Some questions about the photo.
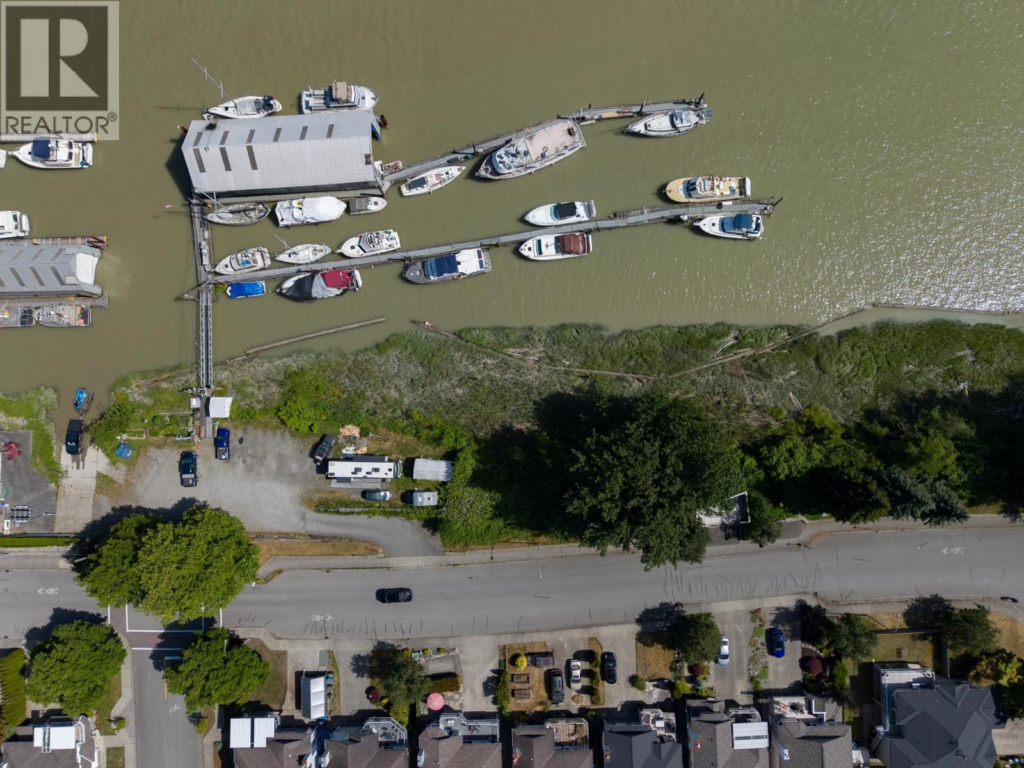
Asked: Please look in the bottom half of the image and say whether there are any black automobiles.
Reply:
Yes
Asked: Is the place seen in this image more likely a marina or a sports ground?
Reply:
marina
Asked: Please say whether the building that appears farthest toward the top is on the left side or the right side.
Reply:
left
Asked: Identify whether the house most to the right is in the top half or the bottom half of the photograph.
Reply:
bottom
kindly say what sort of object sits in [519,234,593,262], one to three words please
boat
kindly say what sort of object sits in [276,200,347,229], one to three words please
boat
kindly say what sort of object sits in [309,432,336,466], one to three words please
truck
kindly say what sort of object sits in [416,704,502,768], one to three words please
house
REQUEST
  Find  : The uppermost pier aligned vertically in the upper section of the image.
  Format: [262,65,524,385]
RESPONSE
[192,200,215,286]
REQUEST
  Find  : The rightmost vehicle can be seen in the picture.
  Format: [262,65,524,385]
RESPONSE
[769,629,786,657]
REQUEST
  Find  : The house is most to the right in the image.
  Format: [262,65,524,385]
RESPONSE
[864,660,1001,768]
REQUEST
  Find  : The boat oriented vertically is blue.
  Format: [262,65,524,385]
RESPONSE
[74,388,86,410]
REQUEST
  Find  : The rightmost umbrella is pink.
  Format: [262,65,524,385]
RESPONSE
[428,694,445,711]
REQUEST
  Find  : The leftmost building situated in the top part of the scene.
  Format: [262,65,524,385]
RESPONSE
[0,245,111,298]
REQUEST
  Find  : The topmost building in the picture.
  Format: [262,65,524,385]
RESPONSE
[181,111,384,199]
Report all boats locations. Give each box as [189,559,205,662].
[227,281,267,300]
[210,247,275,273]
[477,116,586,177]
[271,241,333,266]
[74,388,86,410]
[524,202,597,226]
[696,212,762,240]
[301,81,380,114]
[6,138,96,169]
[402,248,494,285]
[276,200,347,229]
[337,228,403,257]
[274,263,365,299]
[625,105,715,137]
[0,303,40,327]
[401,166,466,198]
[194,196,273,224]
[349,198,387,214]
[0,212,33,239]
[31,304,97,327]
[661,172,750,202]
[187,63,285,119]
[519,234,593,262]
